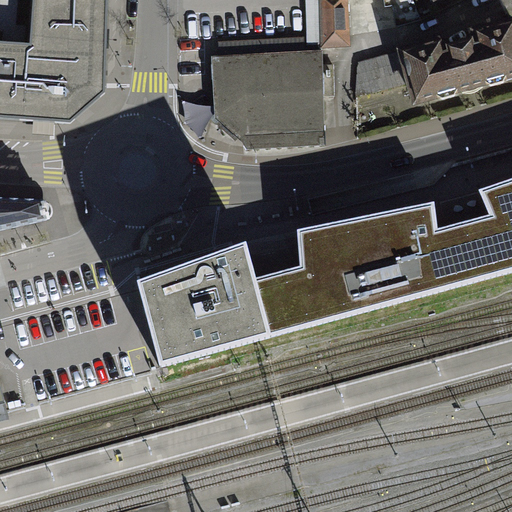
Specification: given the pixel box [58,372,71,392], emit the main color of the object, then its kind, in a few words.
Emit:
red vehicle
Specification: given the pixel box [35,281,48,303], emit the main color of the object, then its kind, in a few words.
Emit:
white vehicle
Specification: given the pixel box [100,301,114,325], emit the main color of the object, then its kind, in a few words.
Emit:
black vehicle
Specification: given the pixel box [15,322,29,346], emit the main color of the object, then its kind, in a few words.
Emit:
white vehicle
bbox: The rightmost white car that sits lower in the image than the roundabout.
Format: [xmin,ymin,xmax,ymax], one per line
[120,354,132,375]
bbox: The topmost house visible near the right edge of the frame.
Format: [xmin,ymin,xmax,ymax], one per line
[396,22,512,106]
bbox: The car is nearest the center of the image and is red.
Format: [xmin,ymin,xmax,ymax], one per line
[188,154,208,168]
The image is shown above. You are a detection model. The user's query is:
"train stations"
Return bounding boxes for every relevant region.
[0,338,512,509]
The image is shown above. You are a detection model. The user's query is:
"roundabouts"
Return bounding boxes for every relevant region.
[81,112,195,228]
